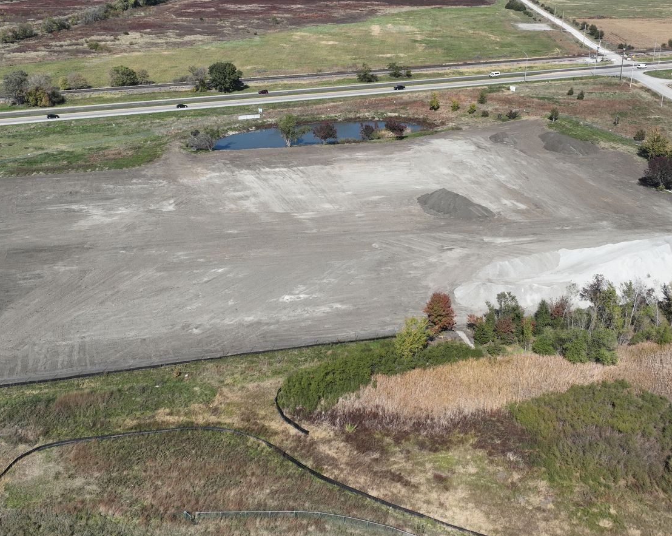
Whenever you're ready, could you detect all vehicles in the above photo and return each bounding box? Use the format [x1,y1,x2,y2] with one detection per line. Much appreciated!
[257,89,269,94]
[174,102,189,108]
[488,69,501,76]
[47,113,60,118]
[392,83,407,90]
[636,61,649,67]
